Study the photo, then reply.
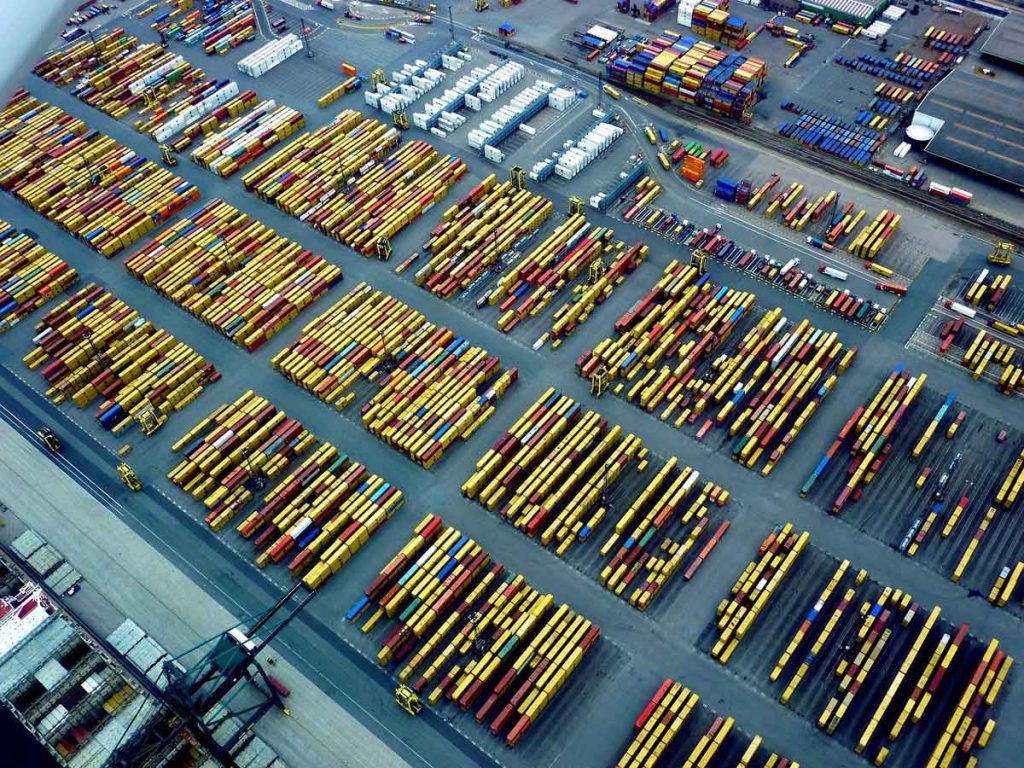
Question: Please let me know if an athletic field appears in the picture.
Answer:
No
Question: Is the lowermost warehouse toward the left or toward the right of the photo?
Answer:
right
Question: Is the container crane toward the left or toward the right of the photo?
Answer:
left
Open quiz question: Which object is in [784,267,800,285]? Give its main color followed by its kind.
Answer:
red vehicle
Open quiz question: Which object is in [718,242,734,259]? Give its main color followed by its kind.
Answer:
blue vehicle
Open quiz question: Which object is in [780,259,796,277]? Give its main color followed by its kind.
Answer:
white vehicle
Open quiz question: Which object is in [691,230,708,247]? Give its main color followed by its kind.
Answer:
red vehicle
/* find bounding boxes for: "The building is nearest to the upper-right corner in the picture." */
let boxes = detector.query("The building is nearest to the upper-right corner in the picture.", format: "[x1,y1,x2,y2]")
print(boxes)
[977,21,1024,77]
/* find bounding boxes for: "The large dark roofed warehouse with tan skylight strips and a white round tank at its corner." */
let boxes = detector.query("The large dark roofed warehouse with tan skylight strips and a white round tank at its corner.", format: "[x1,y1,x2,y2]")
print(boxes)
[911,68,1024,201]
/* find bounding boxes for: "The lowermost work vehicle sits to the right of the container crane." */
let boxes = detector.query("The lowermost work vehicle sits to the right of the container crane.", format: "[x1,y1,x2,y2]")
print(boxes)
[392,681,419,711]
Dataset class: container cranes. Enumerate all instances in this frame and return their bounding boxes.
[112,583,315,768]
